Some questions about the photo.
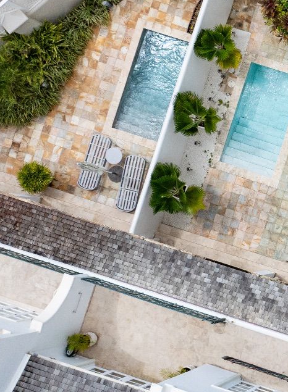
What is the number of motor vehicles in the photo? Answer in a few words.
none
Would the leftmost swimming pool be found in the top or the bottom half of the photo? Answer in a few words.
top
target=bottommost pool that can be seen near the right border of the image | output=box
[206,49,288,192]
